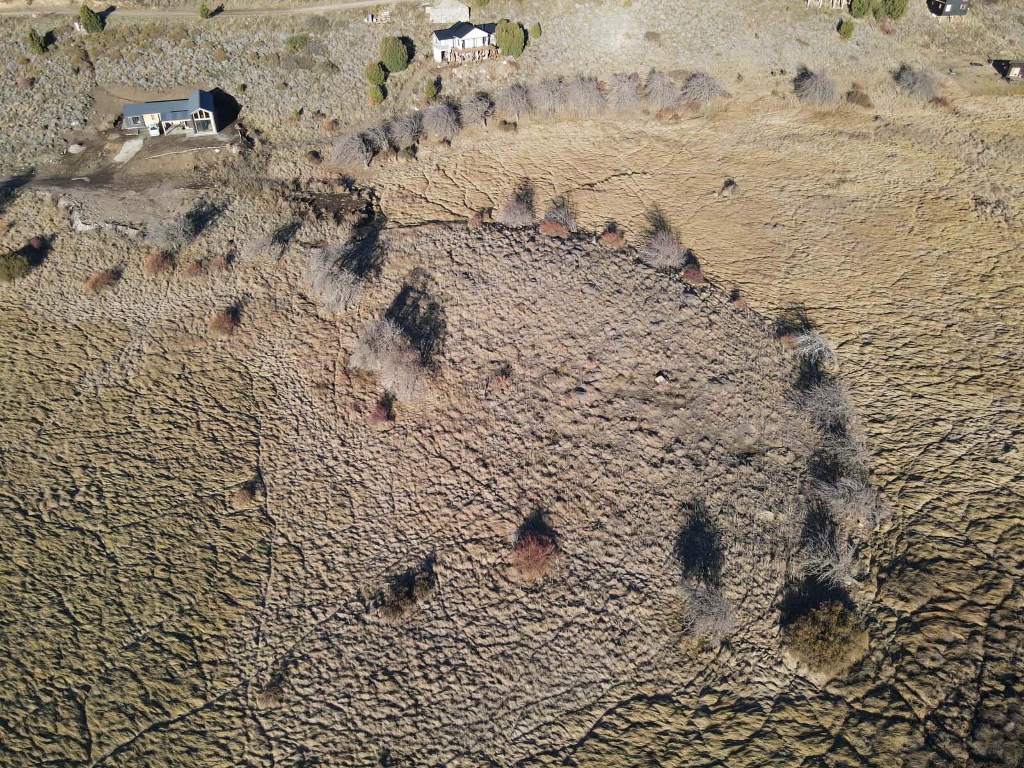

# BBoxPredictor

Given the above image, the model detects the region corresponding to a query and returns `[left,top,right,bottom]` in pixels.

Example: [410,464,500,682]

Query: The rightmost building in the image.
[993,53,1024,82]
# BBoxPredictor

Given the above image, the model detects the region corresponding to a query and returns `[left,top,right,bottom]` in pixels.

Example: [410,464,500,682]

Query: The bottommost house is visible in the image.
[120,89,228,137]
